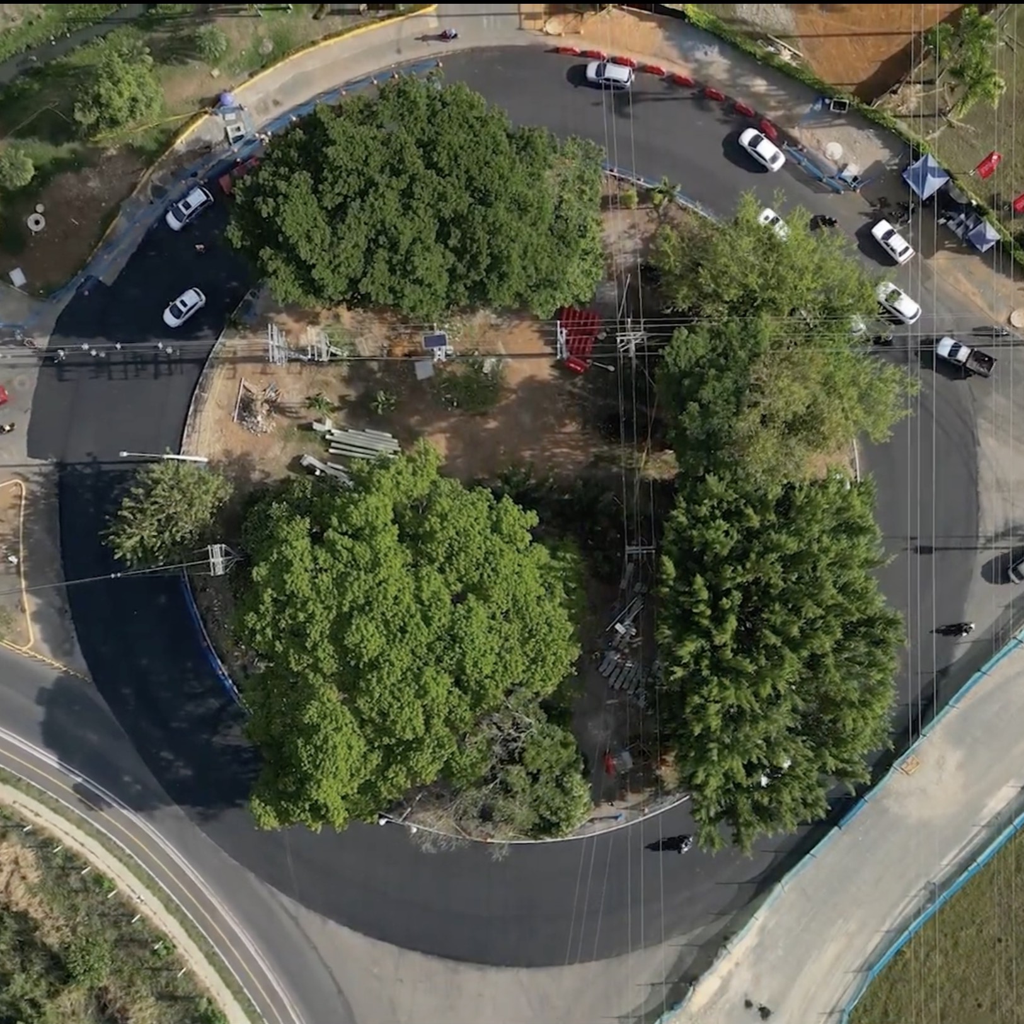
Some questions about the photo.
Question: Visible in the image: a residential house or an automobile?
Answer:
automobile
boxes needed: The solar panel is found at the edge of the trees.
[422,332,447,350]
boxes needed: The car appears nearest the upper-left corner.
[163,185,213,227]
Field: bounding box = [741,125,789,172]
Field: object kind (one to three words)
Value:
car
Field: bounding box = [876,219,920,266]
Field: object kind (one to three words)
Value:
car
